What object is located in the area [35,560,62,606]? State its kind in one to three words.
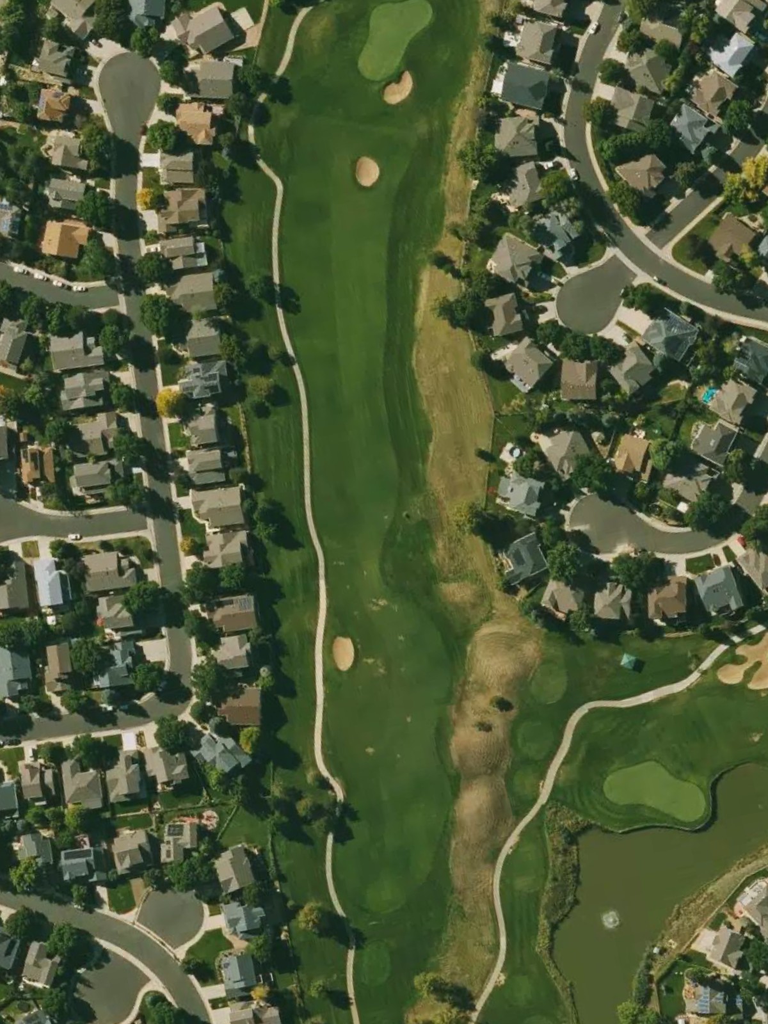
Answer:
house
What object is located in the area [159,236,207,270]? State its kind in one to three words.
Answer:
house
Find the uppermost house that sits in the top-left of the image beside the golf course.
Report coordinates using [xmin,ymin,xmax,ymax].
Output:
[169,6,235,53]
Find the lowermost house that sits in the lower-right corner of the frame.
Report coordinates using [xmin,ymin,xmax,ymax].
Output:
[687,986,727,1016]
